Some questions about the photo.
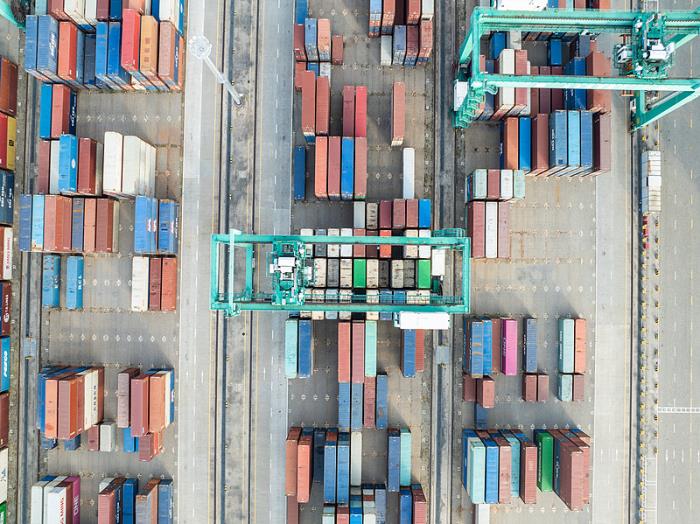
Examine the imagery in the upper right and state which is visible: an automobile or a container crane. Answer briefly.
container crane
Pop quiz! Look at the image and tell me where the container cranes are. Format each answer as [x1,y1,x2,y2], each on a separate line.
[0,0,27,34]
[208,229,470,329]
[447,0,700,125]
